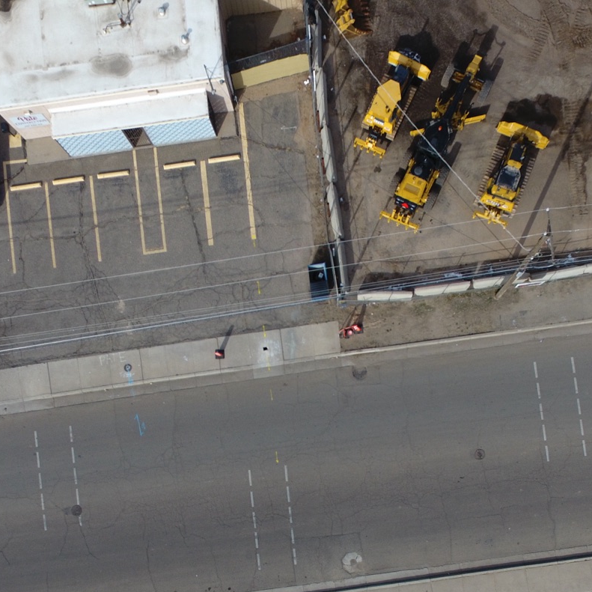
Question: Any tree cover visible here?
No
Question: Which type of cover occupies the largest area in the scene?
paved ground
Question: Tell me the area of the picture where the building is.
top left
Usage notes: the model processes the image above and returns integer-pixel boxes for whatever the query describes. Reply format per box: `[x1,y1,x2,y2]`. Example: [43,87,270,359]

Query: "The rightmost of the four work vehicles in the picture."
[476,122,555,226]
